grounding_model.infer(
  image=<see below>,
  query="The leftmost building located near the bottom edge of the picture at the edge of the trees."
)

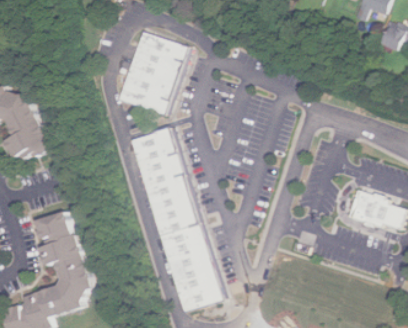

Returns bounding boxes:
[6,212,96,328]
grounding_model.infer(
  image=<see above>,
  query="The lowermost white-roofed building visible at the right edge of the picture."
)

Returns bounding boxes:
[350,190,408,230]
